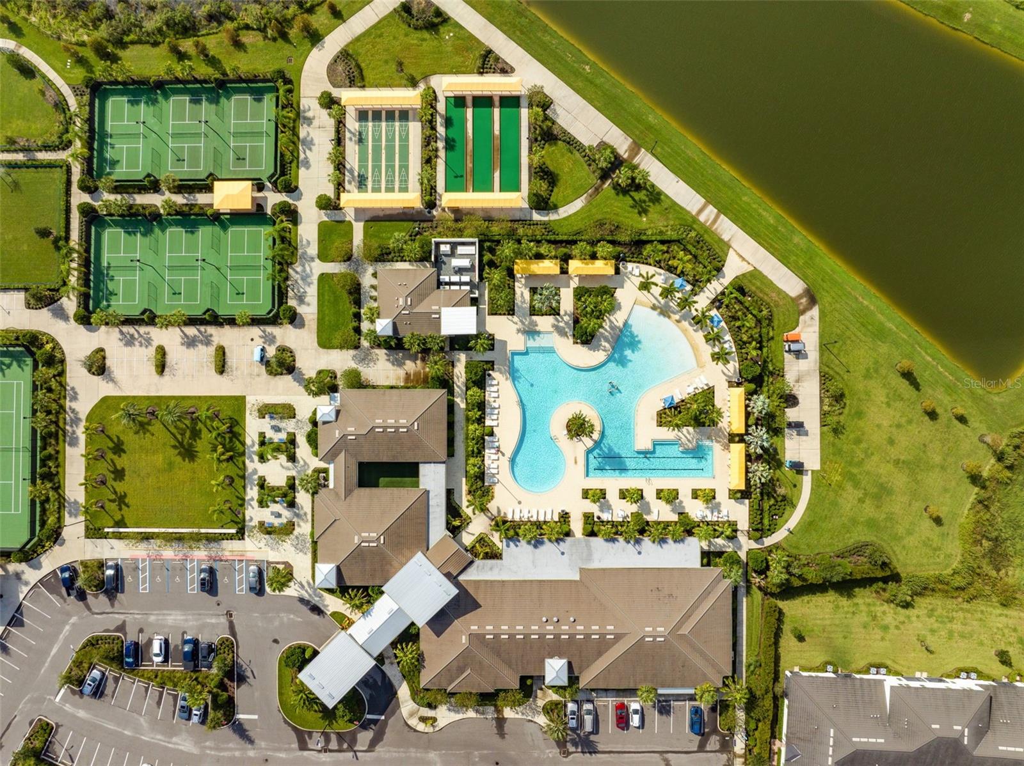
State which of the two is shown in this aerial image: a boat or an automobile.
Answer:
automobile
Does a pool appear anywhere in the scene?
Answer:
Yes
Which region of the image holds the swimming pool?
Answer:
center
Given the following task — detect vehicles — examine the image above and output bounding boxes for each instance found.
[615,701,628,730]
[105,562,120,590]
[59,564,78,593]
[582,701,595,731]
[254,347,264,361]
[182,637,197,670]
[690,706,703,734]
[784,344,803,351]
[178,692,192,721]
[191,698,207,727]
[123,639,138,668]
[152,635,166,663]
[84,667,103,696]
[198,564,212,592]
[200,637,214,671]
[785,461,803,469]
[786,421,804,428]
[247,565,260,592]
[630,700,642,728]
[567,701,579,729]
[783,334,802,341]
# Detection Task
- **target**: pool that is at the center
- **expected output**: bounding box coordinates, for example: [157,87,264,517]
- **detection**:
[508,296,715,495]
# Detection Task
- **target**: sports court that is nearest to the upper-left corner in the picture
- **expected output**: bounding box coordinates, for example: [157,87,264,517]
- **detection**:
[103,97,141,170]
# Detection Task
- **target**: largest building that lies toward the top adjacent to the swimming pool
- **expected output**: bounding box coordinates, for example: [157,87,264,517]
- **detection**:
[377,268,471,335]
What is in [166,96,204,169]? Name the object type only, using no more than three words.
sports court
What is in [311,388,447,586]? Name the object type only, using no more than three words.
building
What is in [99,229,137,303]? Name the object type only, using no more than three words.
sports court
